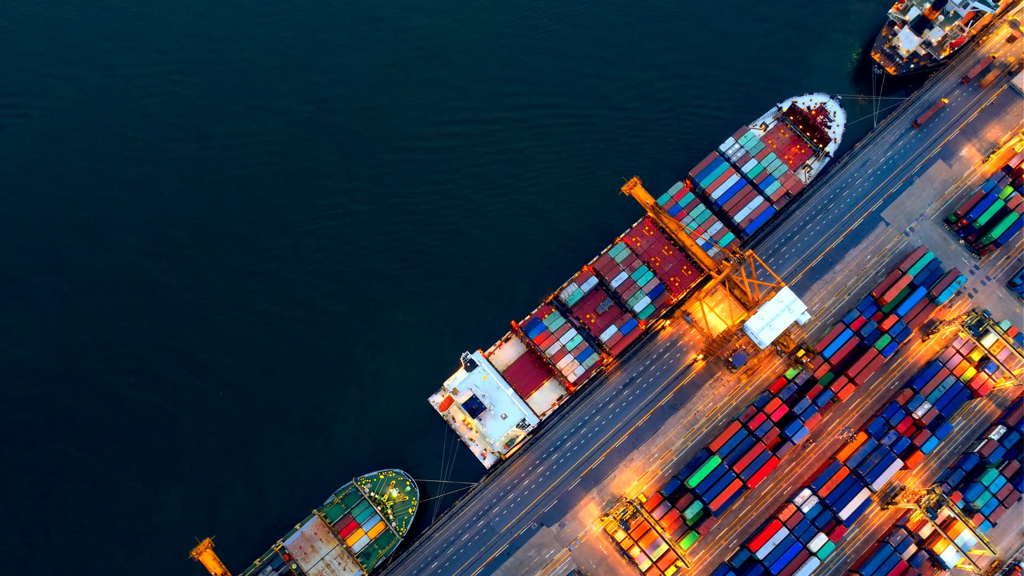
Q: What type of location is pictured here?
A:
port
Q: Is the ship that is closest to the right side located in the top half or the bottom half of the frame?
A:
top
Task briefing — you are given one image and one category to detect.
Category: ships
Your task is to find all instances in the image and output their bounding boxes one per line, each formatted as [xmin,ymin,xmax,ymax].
[863,0,1011,85]
[428,93,845,468]
[240,470,420,576]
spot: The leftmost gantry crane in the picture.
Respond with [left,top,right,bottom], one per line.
[187,539,235,576]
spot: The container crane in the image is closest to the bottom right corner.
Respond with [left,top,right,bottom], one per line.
[885,485,998,576]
